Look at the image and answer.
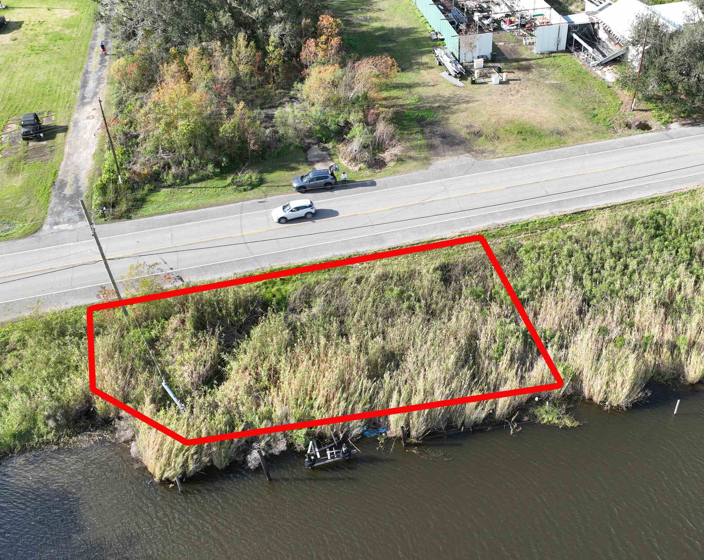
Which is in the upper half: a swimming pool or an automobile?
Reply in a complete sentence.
The one visible in the upper half is an automobile.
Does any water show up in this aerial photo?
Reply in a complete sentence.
Yes, there's water in this view.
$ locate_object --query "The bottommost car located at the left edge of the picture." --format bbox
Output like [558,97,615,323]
[12,110,44,137]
